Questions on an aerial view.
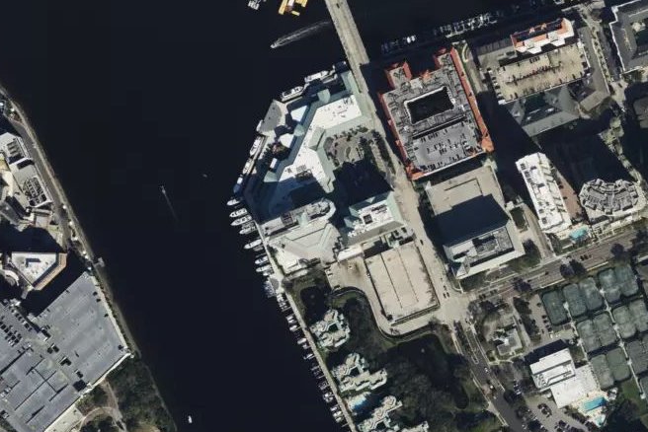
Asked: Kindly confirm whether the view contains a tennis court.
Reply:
Yes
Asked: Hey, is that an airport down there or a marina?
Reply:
marina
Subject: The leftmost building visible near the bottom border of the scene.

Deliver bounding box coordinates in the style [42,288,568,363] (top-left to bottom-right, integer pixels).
[0,271,132,432]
